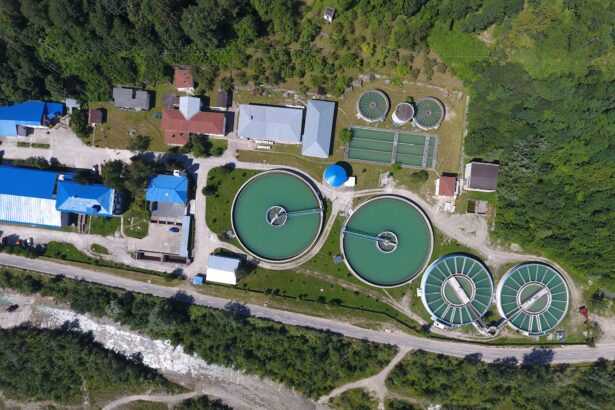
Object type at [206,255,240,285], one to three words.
shed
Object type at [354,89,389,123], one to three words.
storage tank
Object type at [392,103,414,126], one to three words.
silo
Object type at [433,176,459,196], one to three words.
building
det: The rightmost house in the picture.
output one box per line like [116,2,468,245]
[464,162,499,190]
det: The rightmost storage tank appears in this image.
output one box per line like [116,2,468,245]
[491,261,571,337]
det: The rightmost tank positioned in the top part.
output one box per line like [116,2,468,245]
[410,97,446,133]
